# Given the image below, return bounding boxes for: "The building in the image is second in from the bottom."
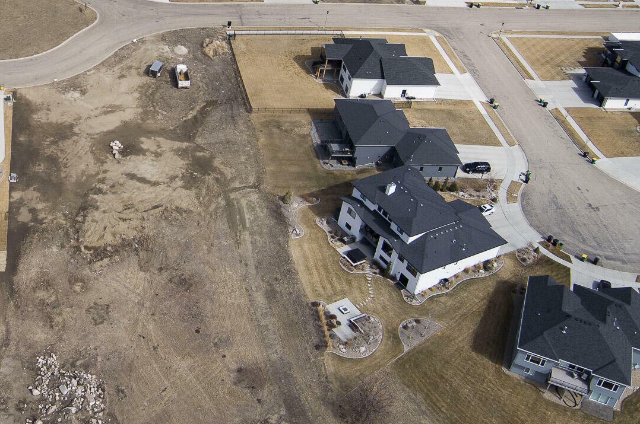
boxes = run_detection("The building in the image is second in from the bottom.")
[336,166,508,299]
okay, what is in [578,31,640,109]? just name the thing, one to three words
house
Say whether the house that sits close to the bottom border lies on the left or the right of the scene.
right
